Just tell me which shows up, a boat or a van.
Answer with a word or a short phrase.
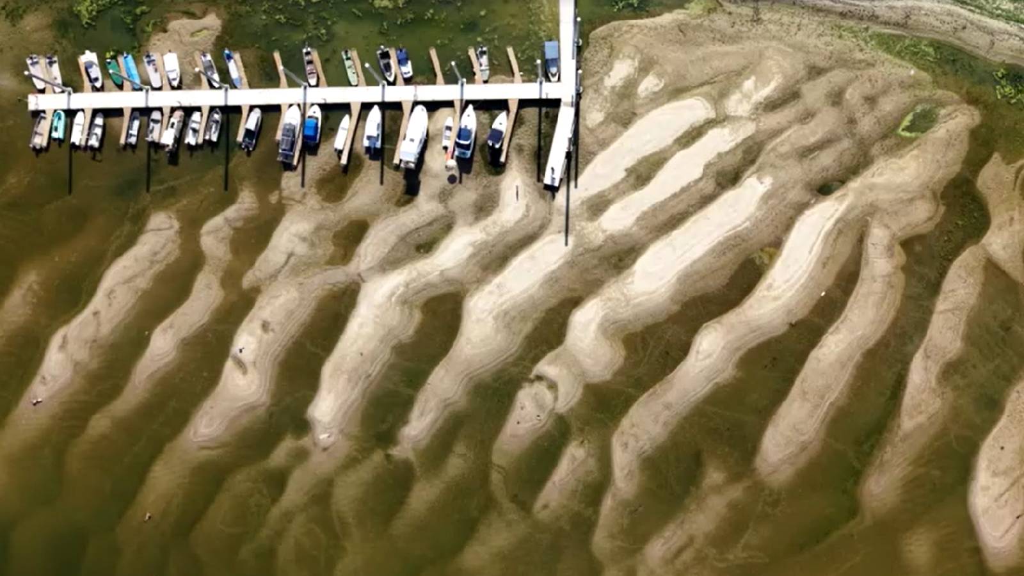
boat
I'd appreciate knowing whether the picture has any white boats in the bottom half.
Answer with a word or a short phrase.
No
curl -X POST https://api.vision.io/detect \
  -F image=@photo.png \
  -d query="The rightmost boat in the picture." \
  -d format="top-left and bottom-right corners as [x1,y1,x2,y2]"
[545,40,560,82]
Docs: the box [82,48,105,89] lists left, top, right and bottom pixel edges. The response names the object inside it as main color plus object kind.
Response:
white boat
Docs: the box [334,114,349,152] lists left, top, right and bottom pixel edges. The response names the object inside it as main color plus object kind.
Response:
white boat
